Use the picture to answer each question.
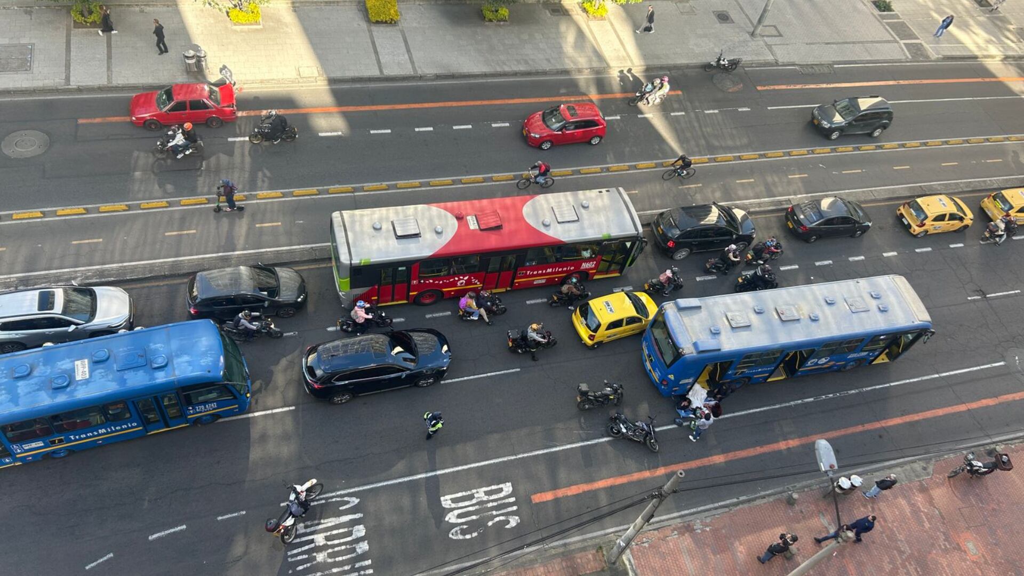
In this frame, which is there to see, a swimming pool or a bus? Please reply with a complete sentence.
There is a bus in the scene.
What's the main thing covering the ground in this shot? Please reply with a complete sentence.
The bulk of the photo consists of paved ground.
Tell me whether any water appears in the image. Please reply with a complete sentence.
No, there is no water in the image.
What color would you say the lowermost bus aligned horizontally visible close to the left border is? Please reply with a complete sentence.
In this view, the lowermost bus aligned horizontally visible close to the left border is blue.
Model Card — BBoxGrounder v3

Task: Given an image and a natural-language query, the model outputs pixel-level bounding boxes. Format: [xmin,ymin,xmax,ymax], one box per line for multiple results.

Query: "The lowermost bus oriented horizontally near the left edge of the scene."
[0,322,251,468]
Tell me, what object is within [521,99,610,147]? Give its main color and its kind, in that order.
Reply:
red car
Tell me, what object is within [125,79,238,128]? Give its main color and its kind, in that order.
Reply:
red car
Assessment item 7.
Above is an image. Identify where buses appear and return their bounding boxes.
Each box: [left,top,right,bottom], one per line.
[333,189,641,311]
[639,279,932,399]
[0,322,251,468]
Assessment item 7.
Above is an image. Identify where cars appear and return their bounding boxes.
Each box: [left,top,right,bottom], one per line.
[648,202,753,259]
[568,285,662,349]
[521,99,610,147]
[0,273,138,355]
[899,188,977,235]
[178,259,309,325]
[809,89,895,137]
[295,318,454,403]
[125,79,238,128]
[780,190,878,241]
